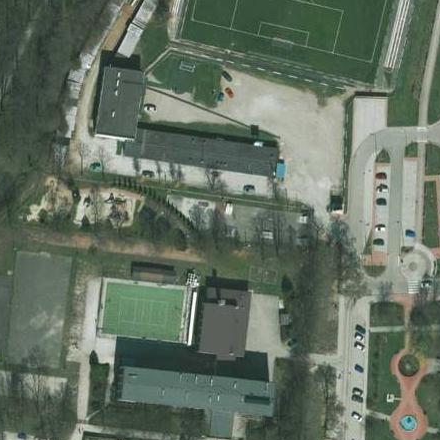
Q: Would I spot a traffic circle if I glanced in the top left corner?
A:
No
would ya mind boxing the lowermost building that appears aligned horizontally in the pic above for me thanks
[119,367,275,416]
